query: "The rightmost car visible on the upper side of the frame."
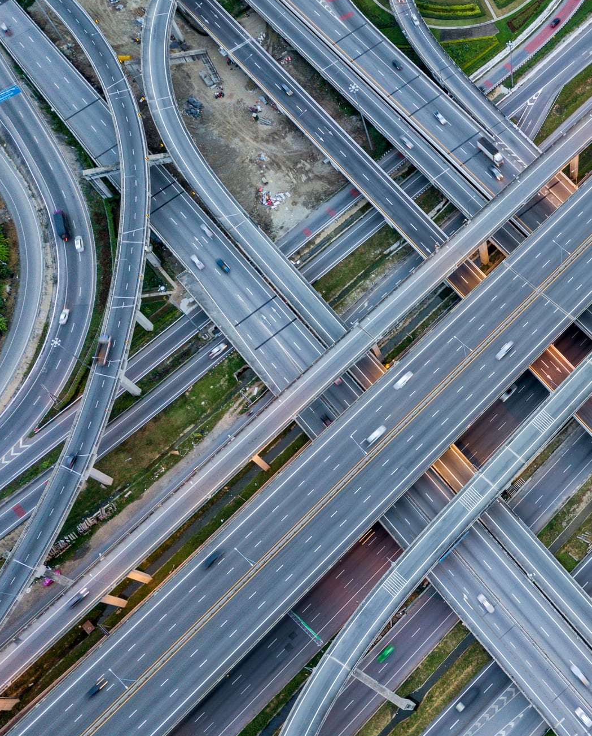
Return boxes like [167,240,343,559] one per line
[549,14,562,28]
